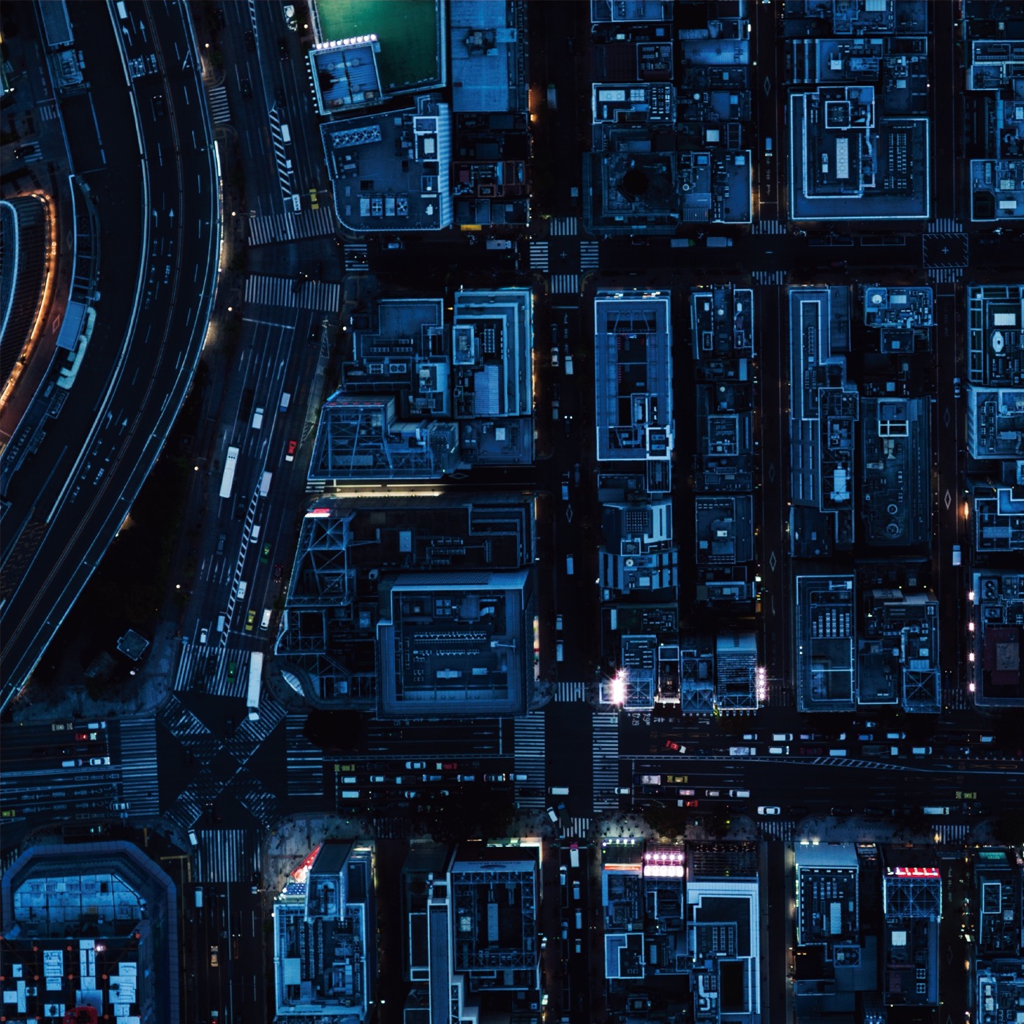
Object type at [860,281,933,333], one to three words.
building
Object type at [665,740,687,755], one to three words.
car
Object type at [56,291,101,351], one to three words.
shed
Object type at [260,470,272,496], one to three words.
vehicle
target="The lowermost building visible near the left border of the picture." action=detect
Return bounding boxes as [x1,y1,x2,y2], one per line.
[0,829,187,1024]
